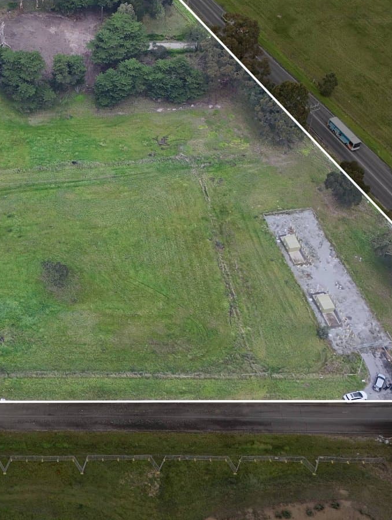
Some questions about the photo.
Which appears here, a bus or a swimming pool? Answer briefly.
bus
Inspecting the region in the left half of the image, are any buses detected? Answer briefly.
No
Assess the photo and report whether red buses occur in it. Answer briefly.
No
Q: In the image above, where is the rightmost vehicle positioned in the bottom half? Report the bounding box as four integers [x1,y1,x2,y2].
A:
[374,373,387,391]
